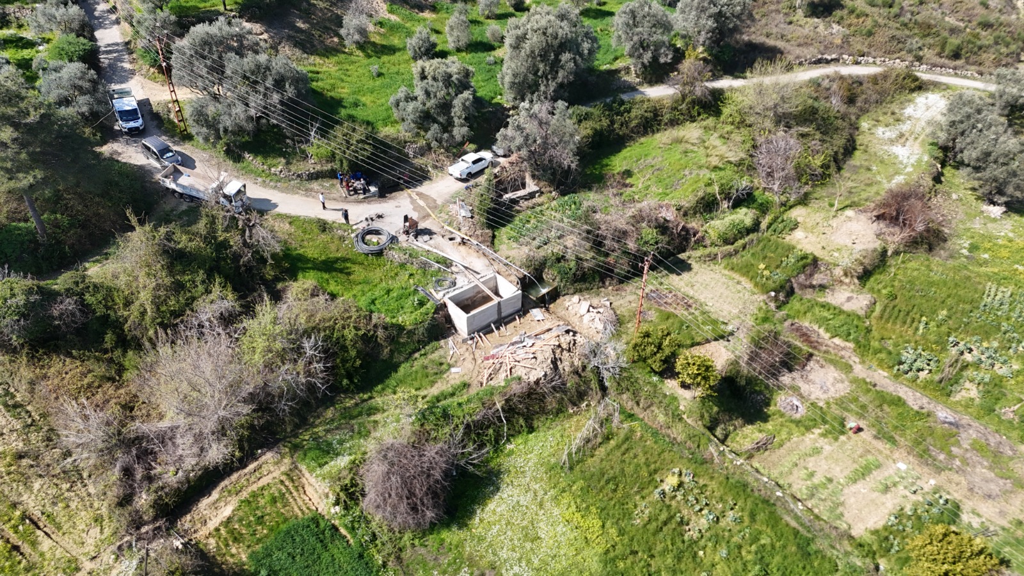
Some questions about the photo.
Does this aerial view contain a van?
Yes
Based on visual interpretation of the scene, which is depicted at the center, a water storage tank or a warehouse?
water storage tank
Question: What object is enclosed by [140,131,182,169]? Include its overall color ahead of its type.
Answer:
gray van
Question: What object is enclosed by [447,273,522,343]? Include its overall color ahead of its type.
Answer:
gray water tank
